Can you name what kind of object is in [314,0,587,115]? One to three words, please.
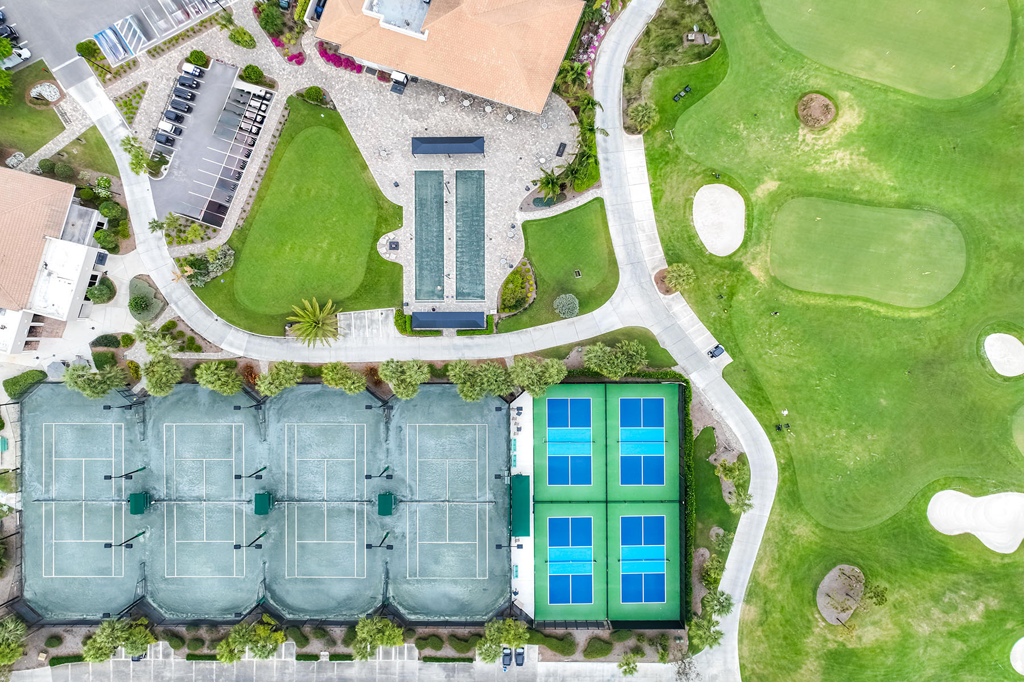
building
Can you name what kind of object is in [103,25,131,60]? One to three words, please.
car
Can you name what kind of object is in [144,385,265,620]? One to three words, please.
tennis court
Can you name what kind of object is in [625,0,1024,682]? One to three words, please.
golf course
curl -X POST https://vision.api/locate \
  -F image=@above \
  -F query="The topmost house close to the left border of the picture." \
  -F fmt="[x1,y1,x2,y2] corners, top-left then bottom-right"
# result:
[0,165,110,355]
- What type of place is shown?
golf course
